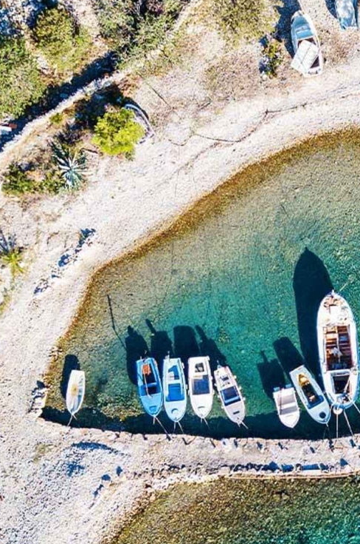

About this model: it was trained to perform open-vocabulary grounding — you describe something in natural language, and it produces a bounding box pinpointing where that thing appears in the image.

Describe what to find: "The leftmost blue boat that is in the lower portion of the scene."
[133,354,171,441]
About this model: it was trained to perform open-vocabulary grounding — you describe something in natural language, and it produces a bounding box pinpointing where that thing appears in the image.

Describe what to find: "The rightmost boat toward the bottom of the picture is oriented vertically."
[314,272,360,441]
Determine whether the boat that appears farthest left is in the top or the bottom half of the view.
bottom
